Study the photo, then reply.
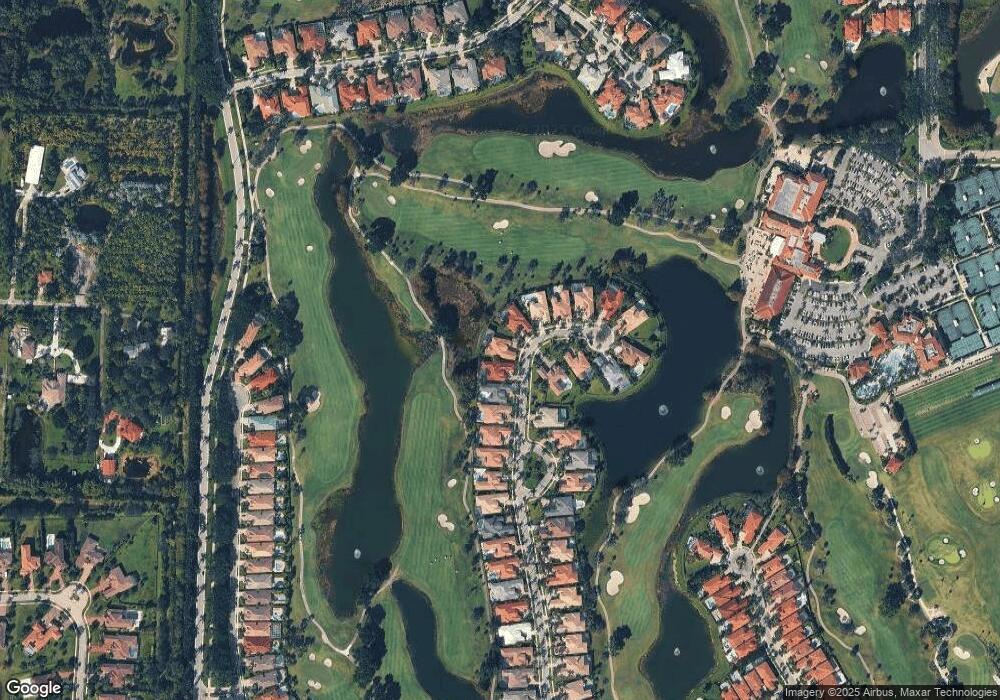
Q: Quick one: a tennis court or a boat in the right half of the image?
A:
tennis court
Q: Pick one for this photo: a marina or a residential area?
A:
residential area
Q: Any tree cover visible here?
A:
Yes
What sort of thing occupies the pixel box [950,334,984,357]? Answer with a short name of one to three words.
tennis court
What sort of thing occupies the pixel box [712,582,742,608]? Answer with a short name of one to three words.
house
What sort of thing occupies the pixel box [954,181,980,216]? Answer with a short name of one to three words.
tennis court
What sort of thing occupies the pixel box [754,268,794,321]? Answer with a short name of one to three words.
building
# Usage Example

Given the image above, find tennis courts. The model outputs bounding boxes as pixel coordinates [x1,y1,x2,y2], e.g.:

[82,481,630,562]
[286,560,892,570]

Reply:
[954,181,980,216]
[960,259,982,292]
[984,211,1000,244]
[938,308,962,340]
[985,169,1000,205]
[973,255,995,288]
[973,294,996,328]
[950,334,984,357]
[964,218,986,251]
[952,303,975,335]
[986,289,1000,323]
[970,175,996,210]
[951,223,974,255]
[985,250,1000,283]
